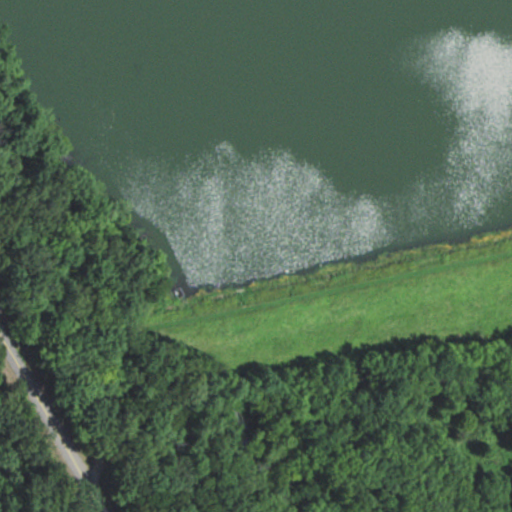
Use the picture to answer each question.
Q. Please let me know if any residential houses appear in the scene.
No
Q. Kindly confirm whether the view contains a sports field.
No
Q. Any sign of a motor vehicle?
No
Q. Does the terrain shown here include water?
Yes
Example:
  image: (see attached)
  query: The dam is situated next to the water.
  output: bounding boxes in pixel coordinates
[128,223,512,382]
